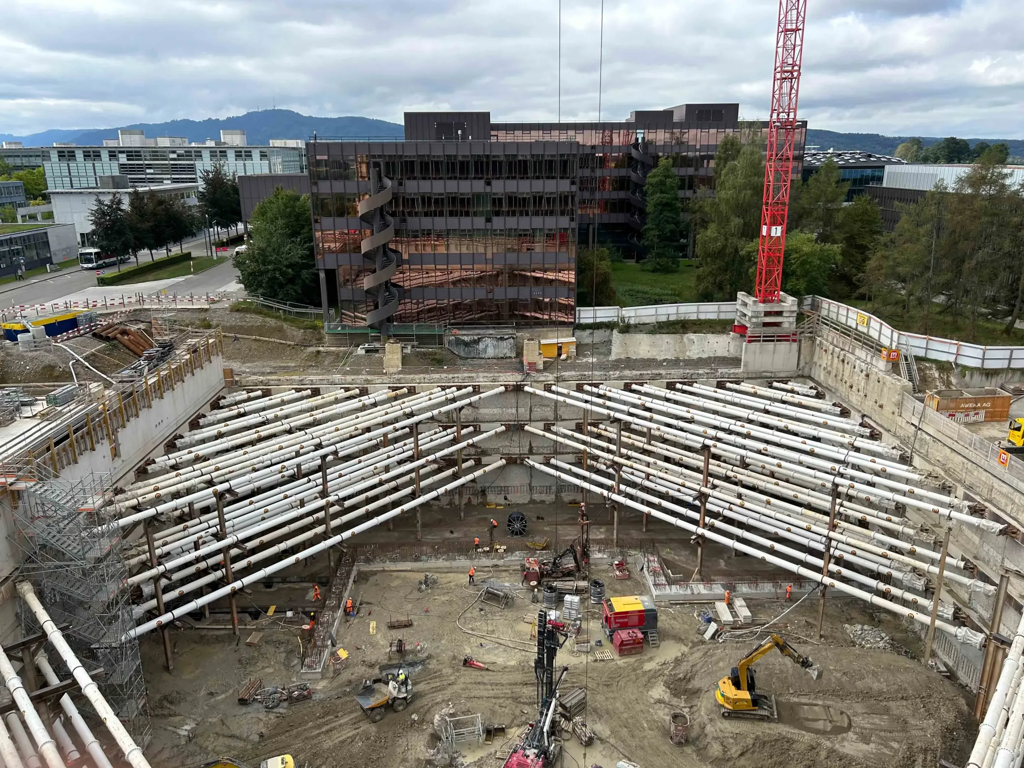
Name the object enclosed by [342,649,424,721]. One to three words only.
truck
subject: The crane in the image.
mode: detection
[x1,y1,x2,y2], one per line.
[732,0,815,341]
